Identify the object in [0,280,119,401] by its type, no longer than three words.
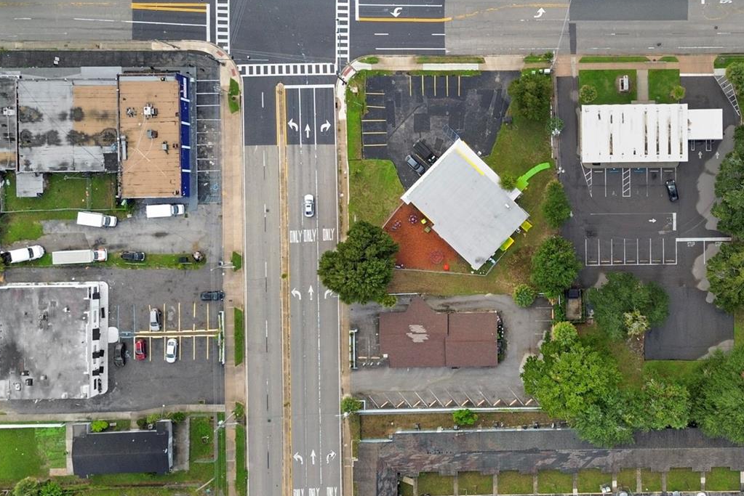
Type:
building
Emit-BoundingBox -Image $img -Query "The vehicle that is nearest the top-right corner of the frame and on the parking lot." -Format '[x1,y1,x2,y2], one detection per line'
[666,178,678,202]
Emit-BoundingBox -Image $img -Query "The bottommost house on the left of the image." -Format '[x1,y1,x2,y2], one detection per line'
[68,417,178,476]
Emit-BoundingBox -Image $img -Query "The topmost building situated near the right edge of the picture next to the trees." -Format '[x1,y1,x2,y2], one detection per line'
[582,104,722,166]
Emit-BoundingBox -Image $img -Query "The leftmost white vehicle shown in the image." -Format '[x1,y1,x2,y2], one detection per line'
[7,246,43,263]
